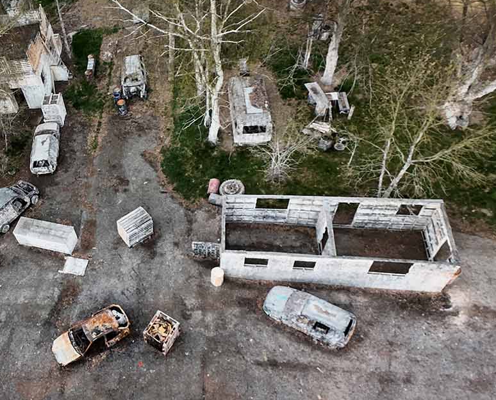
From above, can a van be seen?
Yes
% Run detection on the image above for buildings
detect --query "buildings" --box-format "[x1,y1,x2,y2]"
[0,6,73,109]
[221,195,462,292]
